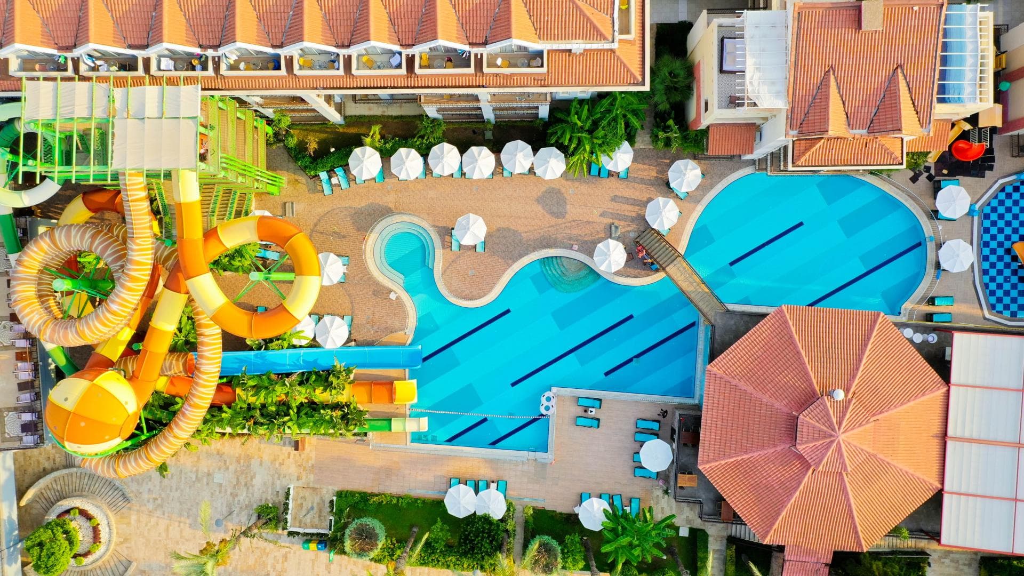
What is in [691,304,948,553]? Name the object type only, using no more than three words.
building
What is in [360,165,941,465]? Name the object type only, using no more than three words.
swimming pool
